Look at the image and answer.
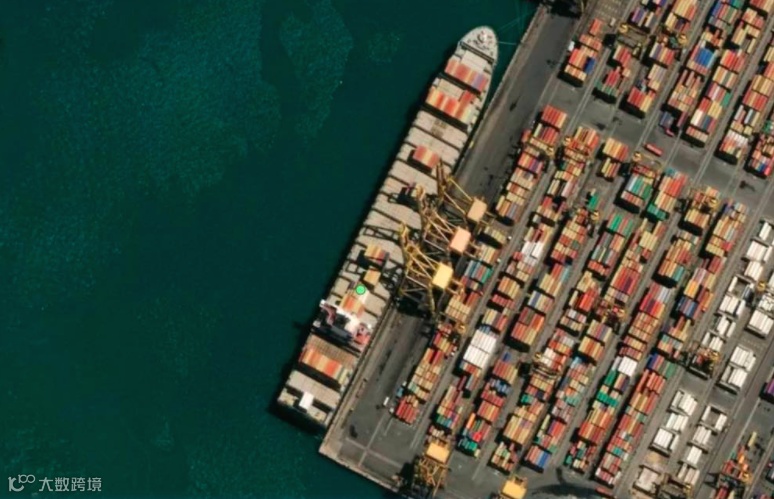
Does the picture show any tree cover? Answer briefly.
No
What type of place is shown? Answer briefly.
port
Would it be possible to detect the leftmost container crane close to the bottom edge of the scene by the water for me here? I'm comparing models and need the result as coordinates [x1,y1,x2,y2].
[407,435,454,499]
